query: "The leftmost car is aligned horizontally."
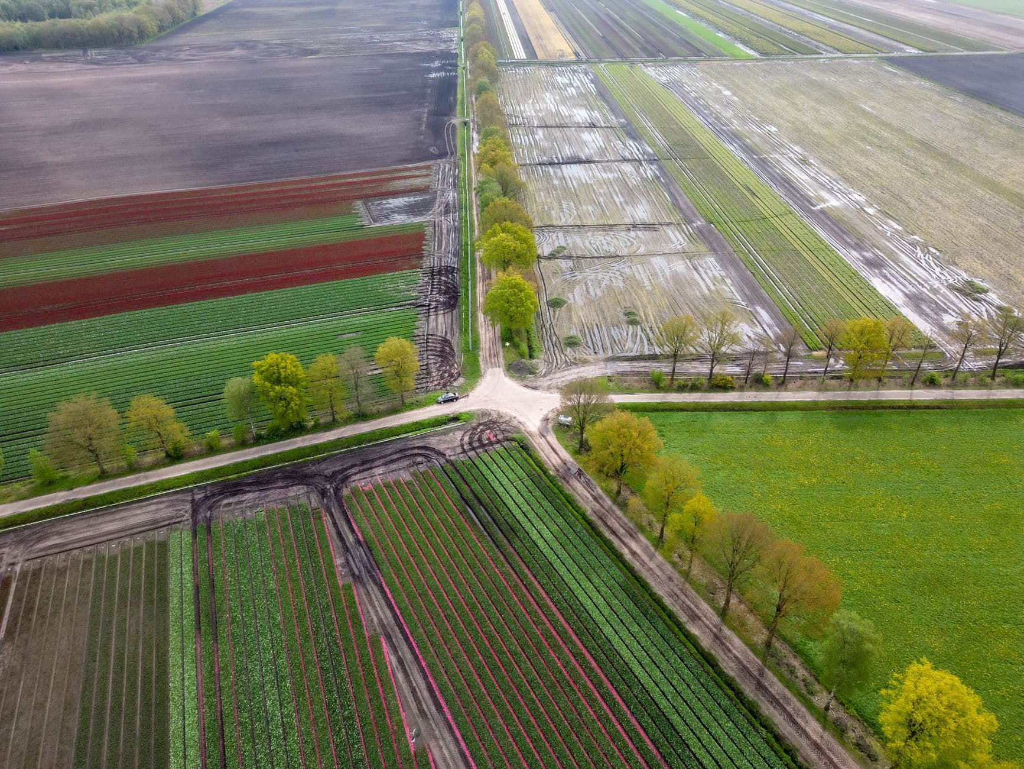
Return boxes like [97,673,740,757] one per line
[435,393,460,405]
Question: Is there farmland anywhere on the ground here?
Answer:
Yes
